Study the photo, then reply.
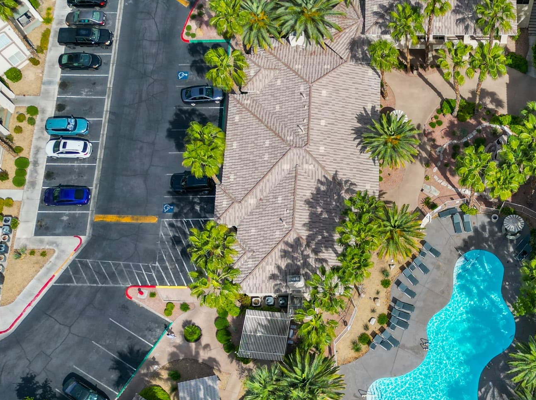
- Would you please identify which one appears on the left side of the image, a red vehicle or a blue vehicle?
blue vehicle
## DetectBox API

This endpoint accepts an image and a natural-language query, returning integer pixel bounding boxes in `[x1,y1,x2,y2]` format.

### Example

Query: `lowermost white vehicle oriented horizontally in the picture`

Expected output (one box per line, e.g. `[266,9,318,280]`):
[44,135,95,159]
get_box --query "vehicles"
[54,23,116,47]
[58,373,110,400]
[56,50,104,72]
[66,7,108,27]
[172,174,216,194]
[44,135,95,159]
[179,84,225,106]
[43,115,91,138]
[44,184,93,206]
[67,0,108,10]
